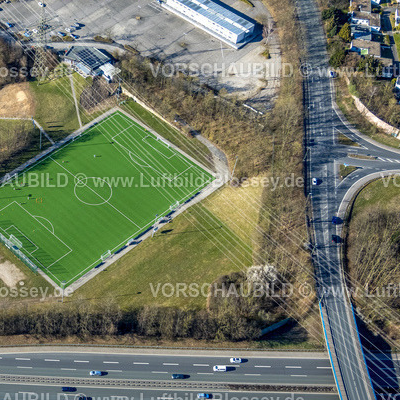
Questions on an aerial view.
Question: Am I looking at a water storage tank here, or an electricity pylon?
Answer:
electricity pylon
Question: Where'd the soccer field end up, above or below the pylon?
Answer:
below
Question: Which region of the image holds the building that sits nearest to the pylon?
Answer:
top left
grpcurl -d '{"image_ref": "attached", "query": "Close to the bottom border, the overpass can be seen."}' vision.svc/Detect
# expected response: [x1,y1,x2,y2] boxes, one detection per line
[319,295,379,400]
